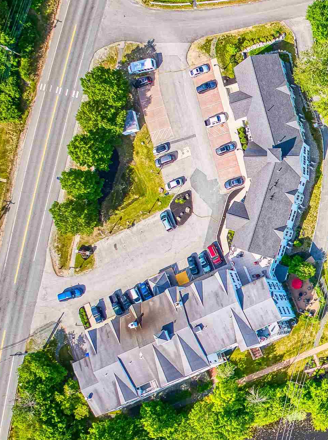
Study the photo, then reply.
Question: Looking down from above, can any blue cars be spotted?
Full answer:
Yes, I can see a blue car in this picture.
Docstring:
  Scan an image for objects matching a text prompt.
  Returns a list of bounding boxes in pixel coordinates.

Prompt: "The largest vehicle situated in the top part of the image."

[128,57,158,75]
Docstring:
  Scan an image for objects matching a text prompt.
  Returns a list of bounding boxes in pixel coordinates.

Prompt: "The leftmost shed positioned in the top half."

[122,108,145,135]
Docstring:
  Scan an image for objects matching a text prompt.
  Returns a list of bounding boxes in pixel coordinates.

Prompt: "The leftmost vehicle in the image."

[55,286,84,302]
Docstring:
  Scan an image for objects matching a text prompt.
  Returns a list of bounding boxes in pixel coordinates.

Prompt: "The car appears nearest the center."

[160,209,177,232]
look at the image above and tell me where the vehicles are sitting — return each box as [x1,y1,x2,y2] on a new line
[185,253,201,277]
[132,75,153,88]
[197,251,213,275]
[195,79,219,93]
[128,57,158,75]
[128,285,143,303]
[160,209,177,232]
[214,142,238,155]
[202,113,228,127]
[55,286,84,302]
[153,153,178,168]
[89,302,107,324]
[119,293,132,313]
[189,63,212,77]
[138,281,153,302]
[108,293,125,317]
[206,241,223,265]
[163,175,187,191]
[223,175,247,190]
